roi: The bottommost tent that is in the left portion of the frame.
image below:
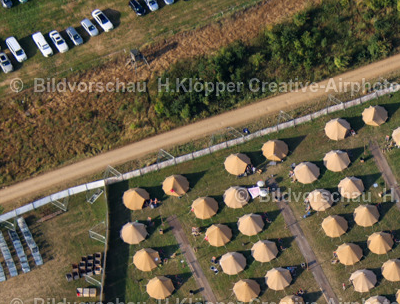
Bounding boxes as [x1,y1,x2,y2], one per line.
[145,276,174,299]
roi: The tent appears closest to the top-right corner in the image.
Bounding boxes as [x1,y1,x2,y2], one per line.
[361,104,391,126]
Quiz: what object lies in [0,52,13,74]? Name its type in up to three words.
vehicle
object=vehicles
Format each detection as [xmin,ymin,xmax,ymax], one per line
[7,34,26,59]
[33,31,51,56]
[66,27,83,47]
[145,0,161,13]
[50,31,67,53]
[163,0,175,6]
[0,52,13,74]
[82,18,97,37]
[0,0,13,10]
[129,0,146,18]
[94,9,111,31]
